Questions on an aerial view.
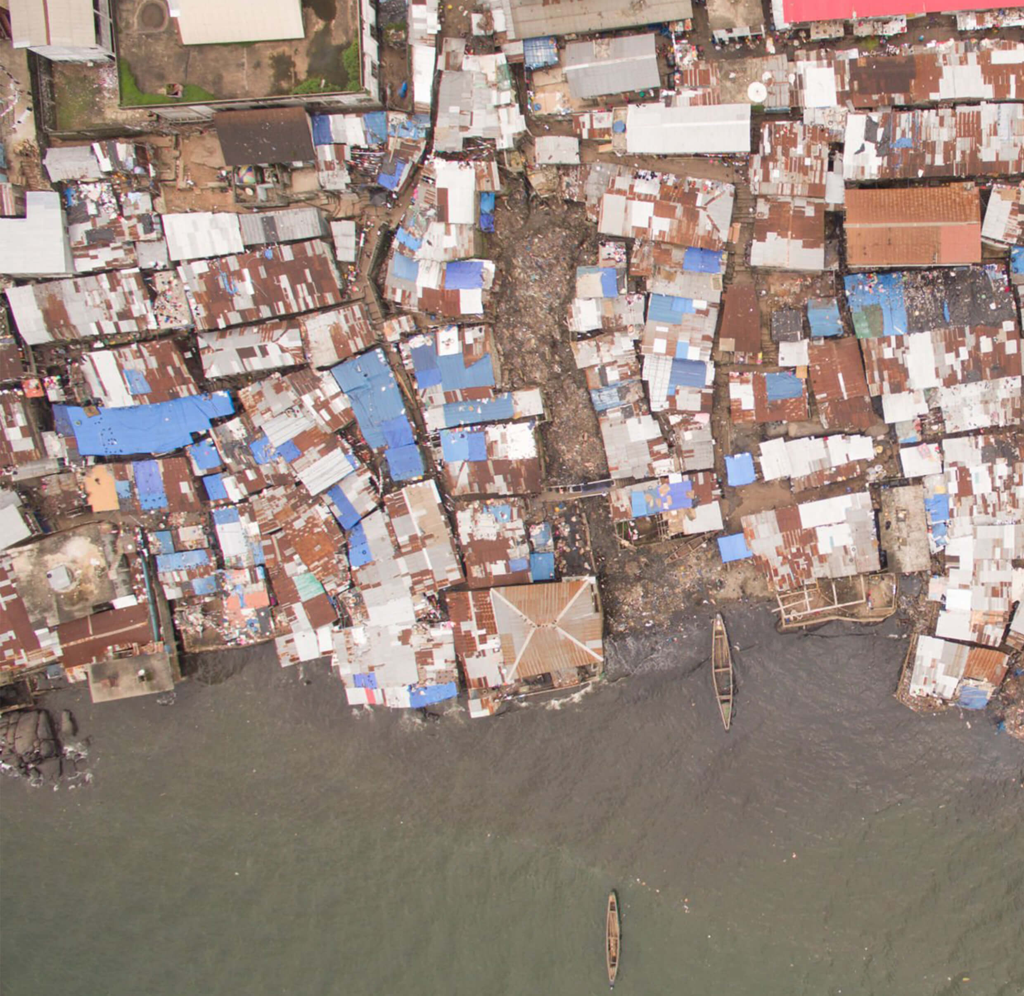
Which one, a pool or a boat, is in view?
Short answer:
boat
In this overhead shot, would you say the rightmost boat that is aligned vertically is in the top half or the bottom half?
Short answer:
bottom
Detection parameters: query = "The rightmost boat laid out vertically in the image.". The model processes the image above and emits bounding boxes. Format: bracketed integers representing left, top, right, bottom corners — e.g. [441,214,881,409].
[712,611,733,732]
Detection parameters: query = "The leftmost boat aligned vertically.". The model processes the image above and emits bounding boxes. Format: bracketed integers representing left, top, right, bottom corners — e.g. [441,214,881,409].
[604,888,620,987]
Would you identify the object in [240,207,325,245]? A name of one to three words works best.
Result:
shed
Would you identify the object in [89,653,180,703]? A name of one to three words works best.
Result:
house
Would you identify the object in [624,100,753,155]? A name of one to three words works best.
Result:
building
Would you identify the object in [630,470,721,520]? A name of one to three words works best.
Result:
shed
